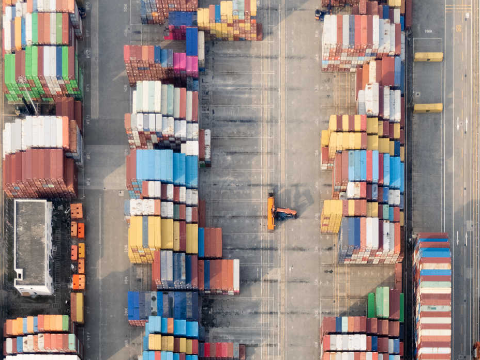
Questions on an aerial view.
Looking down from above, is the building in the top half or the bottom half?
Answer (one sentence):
It is in the bottom half that the building appears.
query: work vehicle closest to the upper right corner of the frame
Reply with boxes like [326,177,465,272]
[312,0,329,21]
